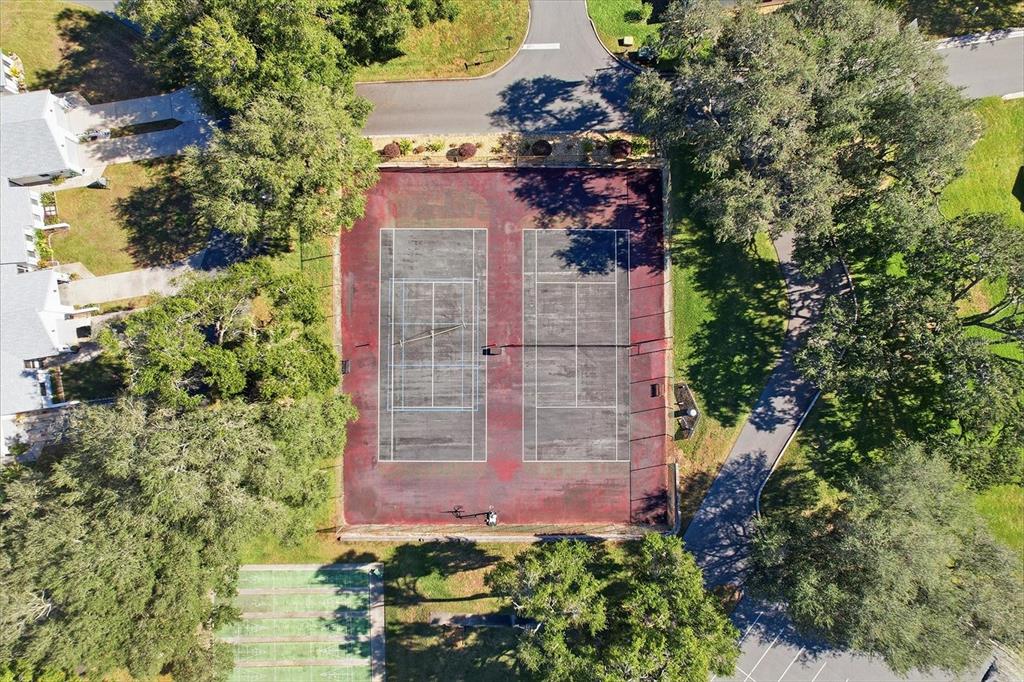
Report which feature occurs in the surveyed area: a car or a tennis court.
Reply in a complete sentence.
The one in the frame is a tennis court.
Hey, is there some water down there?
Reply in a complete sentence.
No, no water is visible.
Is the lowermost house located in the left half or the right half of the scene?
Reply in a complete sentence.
The lowermost house is on the left side of the image.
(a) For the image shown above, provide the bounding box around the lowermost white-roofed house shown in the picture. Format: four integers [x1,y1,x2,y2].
[0,245,75,416]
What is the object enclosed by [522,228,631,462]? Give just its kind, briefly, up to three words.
tennis court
